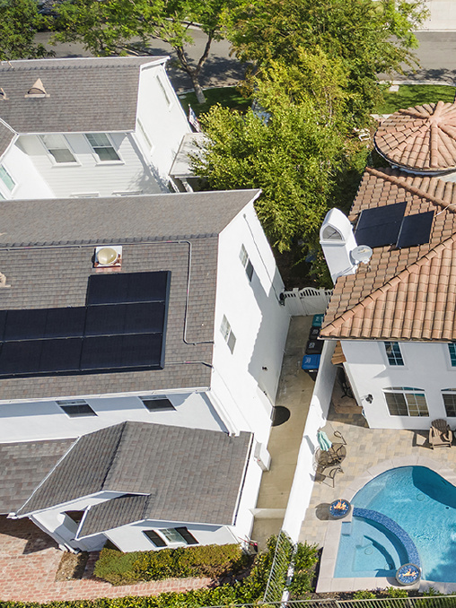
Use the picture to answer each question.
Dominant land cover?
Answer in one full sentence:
The largest share of the image is taken up by buildings.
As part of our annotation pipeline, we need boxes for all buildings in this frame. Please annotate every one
[0,187,293,555]
[315,94,456,430]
